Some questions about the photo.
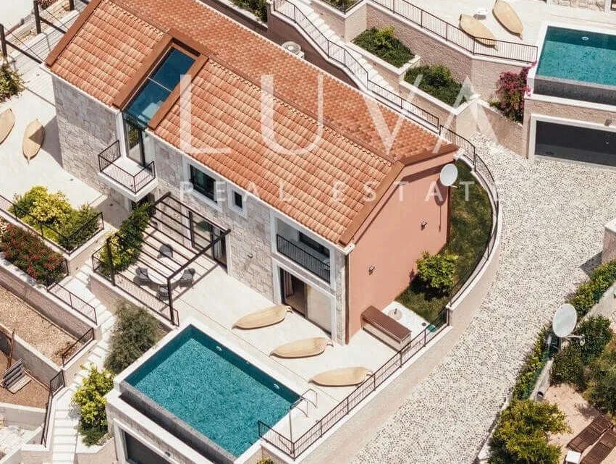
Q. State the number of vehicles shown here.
0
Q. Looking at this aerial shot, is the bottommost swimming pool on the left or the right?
left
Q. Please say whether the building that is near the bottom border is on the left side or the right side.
left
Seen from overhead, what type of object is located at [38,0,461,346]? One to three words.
house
